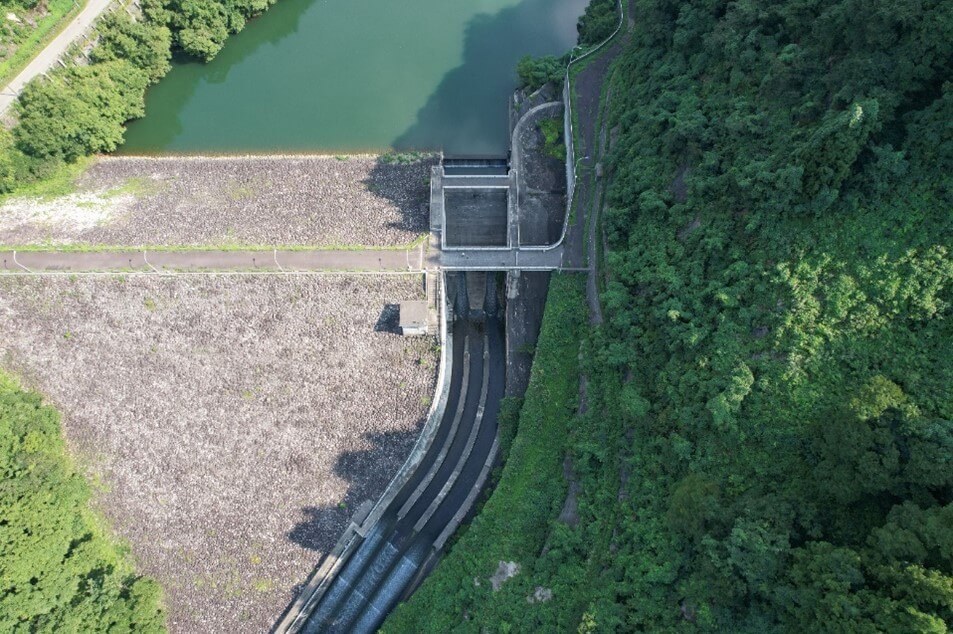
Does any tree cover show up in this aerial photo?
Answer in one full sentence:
Yes, tree cover shows up in the scene.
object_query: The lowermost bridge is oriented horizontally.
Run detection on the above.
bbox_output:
[438,243,591,274]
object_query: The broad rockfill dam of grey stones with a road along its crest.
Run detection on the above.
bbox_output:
[0,151,441,634]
